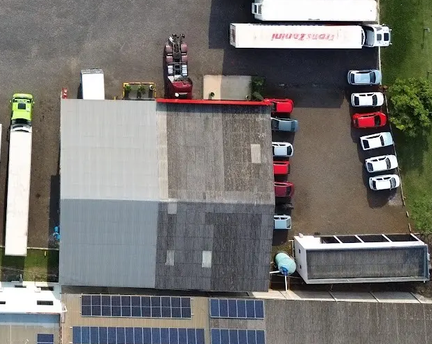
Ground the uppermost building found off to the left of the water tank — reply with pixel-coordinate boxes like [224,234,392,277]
[56,94,275,292]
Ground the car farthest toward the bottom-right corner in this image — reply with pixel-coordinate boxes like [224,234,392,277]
[367,173,401,191]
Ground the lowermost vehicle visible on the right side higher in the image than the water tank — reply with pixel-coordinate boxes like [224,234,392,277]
[273,212,291,229]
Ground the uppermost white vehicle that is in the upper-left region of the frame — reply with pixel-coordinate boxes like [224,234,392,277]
[81,68,103,97]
